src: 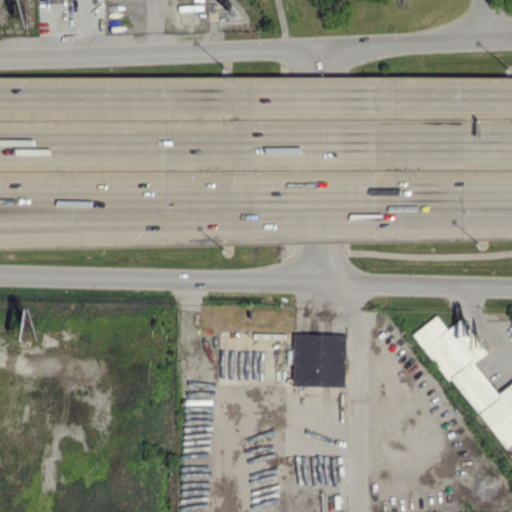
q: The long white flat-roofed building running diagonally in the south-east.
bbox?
[414,316,512,450]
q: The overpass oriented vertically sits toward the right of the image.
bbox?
[283,78,351,244]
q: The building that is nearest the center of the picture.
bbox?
[294,333,346,386]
